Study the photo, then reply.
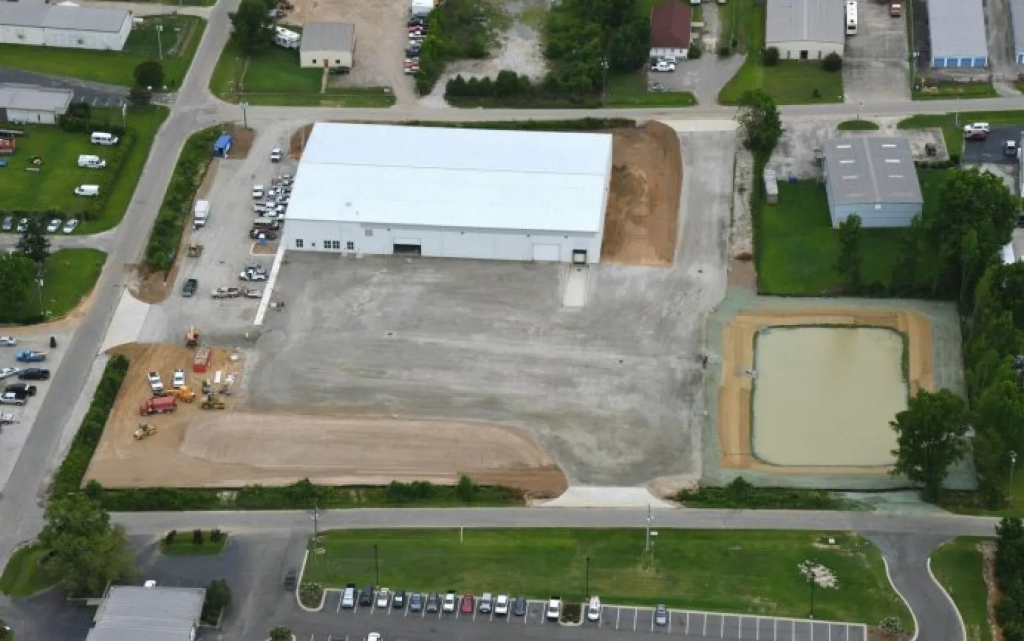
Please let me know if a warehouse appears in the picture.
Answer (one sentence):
Yes, the picture does show a warehouse.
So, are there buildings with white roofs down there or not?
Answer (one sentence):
Yes, I can see a building with a white roof in this picture.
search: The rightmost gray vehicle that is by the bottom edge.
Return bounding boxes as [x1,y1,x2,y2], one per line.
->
[654,602,669,623]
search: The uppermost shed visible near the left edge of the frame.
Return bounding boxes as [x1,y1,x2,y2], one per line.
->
[0,5,133,50]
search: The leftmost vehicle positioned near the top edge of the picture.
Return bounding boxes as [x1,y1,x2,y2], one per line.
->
[271,29,300,48]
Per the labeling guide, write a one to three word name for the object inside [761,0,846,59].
building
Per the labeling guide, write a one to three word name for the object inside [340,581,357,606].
vehicle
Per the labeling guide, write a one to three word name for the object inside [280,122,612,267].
warehouse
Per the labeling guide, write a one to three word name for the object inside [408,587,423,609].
car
